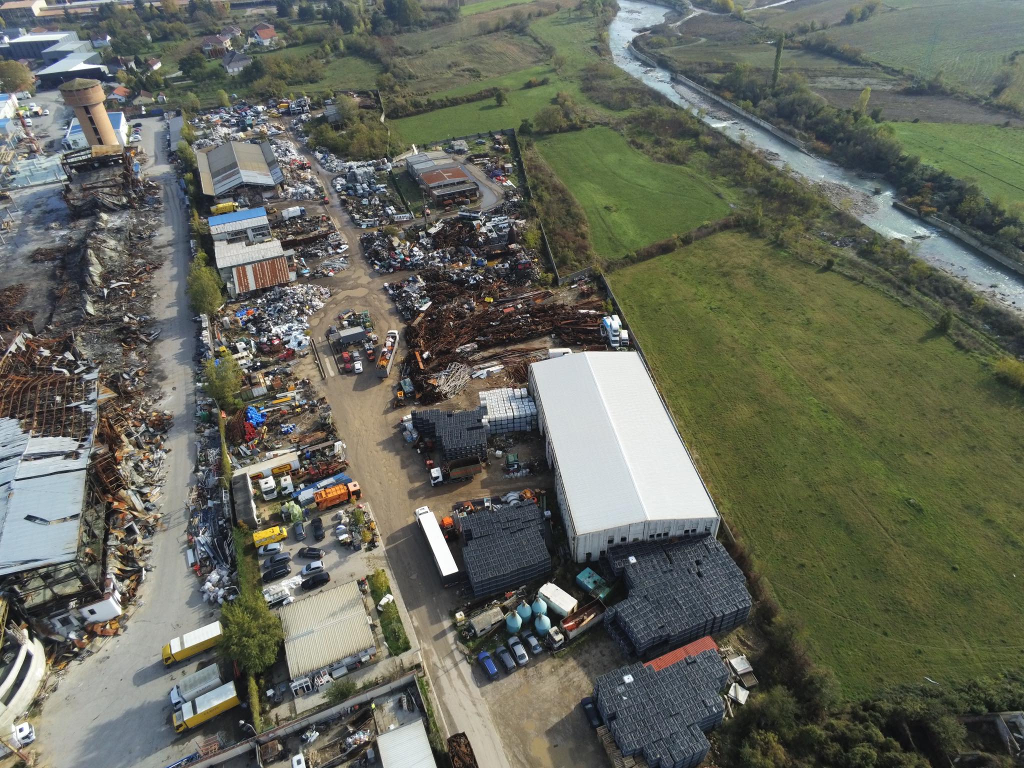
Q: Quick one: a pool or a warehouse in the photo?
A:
warehouse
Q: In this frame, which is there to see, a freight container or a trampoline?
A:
freight container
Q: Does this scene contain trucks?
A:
Yes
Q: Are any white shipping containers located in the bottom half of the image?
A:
Yes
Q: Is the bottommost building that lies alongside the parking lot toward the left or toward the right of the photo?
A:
left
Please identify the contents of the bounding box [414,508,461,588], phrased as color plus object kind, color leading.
white truck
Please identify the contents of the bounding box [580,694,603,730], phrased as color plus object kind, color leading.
black car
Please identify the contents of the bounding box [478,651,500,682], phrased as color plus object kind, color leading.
blue car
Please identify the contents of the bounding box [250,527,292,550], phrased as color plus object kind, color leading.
yellow vehicle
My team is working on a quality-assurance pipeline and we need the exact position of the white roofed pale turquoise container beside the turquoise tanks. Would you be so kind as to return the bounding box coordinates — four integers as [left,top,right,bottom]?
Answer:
[541,583,580,620]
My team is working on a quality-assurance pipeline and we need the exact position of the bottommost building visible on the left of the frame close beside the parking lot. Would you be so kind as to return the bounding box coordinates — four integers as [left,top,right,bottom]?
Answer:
[277,579,386,689]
